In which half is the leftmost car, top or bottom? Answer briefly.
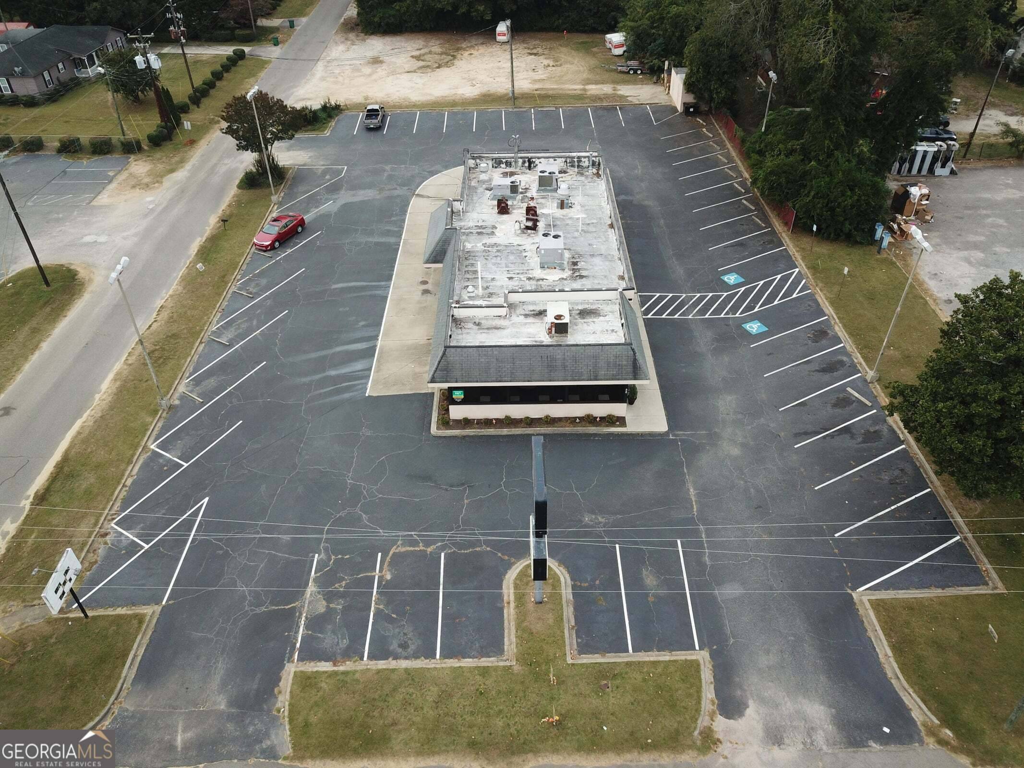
top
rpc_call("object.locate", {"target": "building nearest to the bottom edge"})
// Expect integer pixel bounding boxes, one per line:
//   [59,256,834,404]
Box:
[422,133,651,419]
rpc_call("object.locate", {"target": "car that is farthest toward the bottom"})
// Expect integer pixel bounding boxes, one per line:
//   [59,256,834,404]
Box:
[252,212,306,249]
